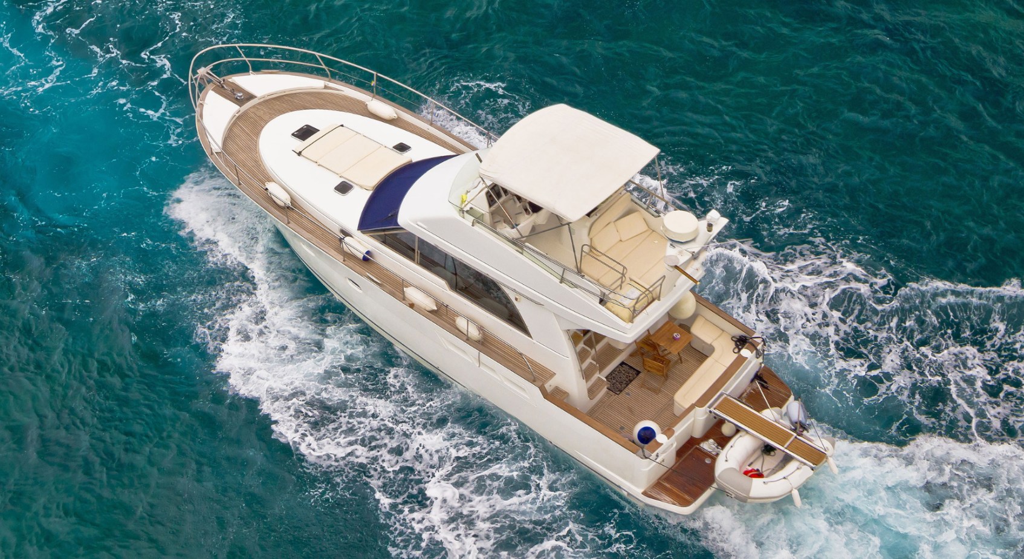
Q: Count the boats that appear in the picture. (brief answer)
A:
2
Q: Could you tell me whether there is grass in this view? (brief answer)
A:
No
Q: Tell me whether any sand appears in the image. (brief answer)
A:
No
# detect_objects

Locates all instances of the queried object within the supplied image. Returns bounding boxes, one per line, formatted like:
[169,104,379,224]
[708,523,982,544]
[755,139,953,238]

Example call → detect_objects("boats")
[184,42,827,522]
[710,406,844,507]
